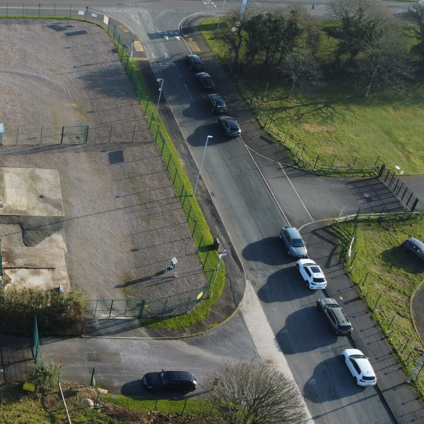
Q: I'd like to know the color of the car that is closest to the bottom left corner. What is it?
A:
black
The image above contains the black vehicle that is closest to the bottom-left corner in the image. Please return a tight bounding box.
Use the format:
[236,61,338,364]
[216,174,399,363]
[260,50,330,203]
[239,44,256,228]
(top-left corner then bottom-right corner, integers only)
[142,370,199,397]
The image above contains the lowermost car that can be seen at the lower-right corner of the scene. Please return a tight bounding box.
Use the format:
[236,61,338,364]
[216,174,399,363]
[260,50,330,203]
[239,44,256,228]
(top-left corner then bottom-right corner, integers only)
[340,350,379,391]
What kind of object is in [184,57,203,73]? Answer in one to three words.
car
